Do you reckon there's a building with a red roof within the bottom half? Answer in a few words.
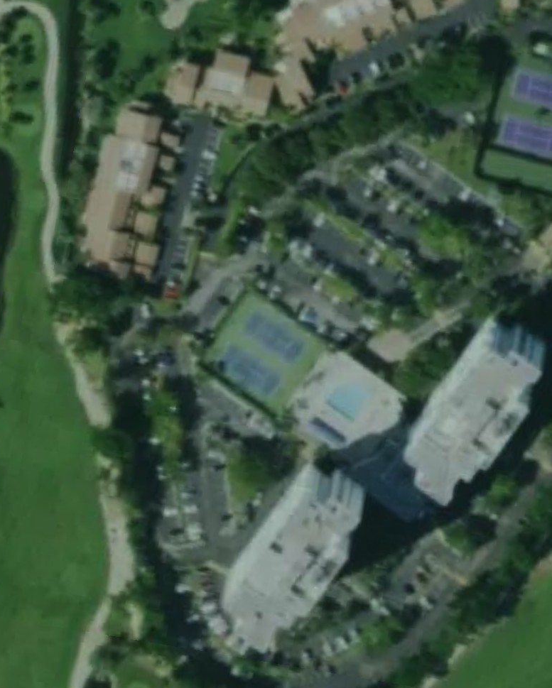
No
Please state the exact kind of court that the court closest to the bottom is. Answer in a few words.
tennis court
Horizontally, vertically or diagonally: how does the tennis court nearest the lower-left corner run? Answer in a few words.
diagonally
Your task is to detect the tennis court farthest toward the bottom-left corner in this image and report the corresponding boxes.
[213,342,284,401]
